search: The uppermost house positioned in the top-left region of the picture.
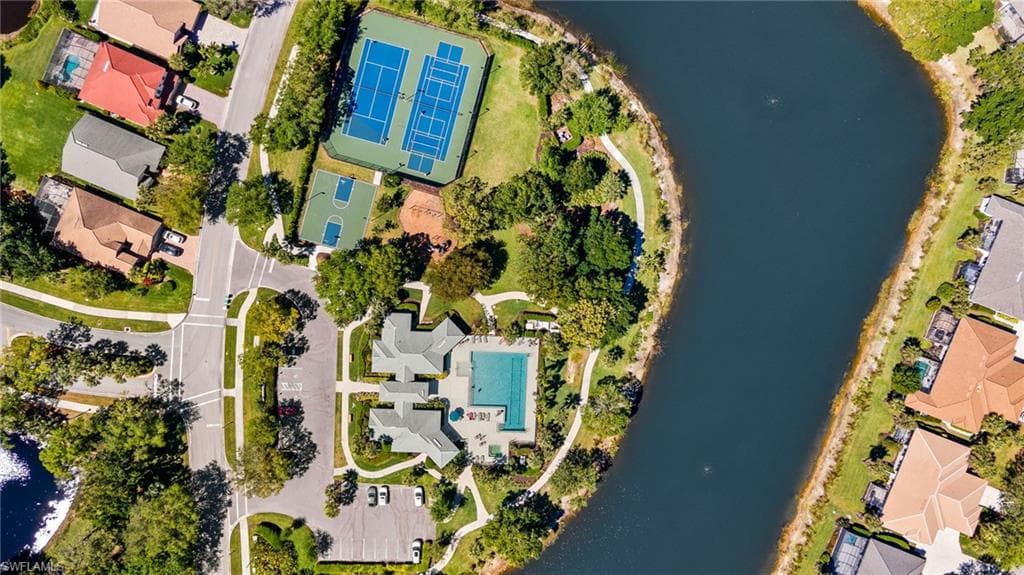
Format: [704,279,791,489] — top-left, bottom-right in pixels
[94,0,205,60]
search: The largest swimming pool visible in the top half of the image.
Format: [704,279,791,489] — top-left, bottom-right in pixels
[58,54,81,83]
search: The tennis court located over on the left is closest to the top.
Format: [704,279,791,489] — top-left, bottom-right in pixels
[325,10,489,184]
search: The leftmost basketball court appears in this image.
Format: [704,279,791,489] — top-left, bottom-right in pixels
[299,170,376,254]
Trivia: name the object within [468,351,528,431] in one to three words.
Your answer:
swimming pool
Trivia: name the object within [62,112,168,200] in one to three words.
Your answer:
house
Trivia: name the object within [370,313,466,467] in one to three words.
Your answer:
building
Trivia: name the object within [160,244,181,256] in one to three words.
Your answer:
vehicle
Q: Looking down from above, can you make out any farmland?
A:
No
